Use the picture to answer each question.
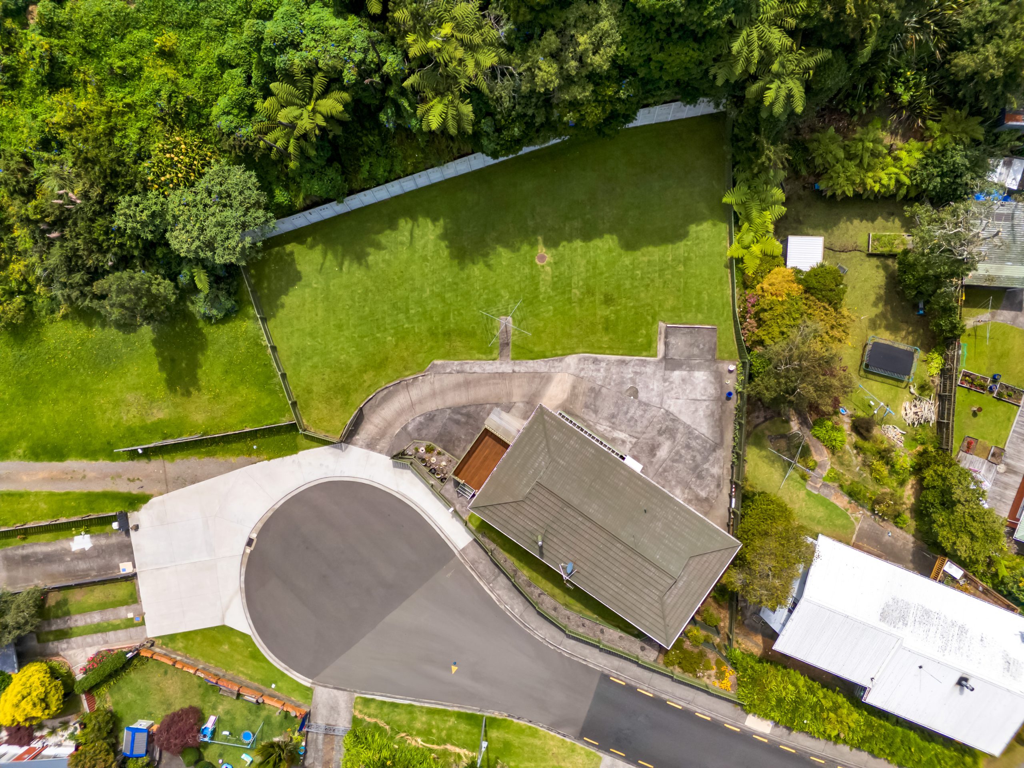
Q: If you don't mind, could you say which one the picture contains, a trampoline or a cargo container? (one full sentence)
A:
There is a trampoline in the scene.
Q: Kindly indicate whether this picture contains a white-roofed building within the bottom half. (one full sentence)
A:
Yes, there is a white-roofed building within the bottom half.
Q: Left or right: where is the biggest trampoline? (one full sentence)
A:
The biggest trampoline appears in the right half of the scene.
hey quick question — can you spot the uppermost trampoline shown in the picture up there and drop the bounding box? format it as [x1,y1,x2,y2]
[858,336,919,381]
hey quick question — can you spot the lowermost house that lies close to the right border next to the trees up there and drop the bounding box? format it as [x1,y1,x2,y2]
[765,533,1024,757]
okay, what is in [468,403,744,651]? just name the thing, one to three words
house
